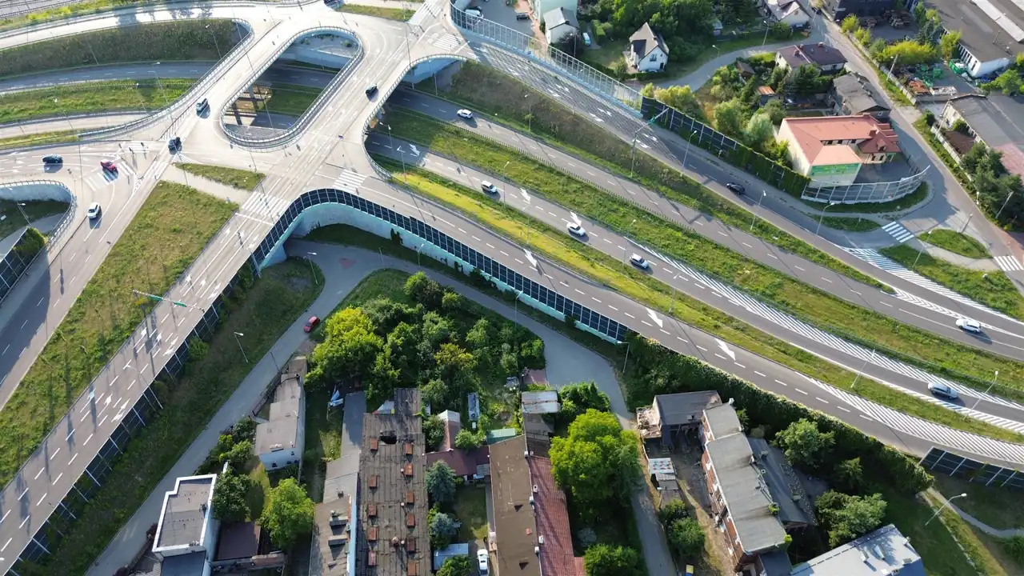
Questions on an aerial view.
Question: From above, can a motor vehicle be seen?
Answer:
Yes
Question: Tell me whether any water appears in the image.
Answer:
No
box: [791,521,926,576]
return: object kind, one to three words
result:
building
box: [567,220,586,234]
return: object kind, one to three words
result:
car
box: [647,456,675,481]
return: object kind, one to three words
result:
shed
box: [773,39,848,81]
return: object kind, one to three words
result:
house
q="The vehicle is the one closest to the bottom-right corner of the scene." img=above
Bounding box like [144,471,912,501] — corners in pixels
[930,381,958,398]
